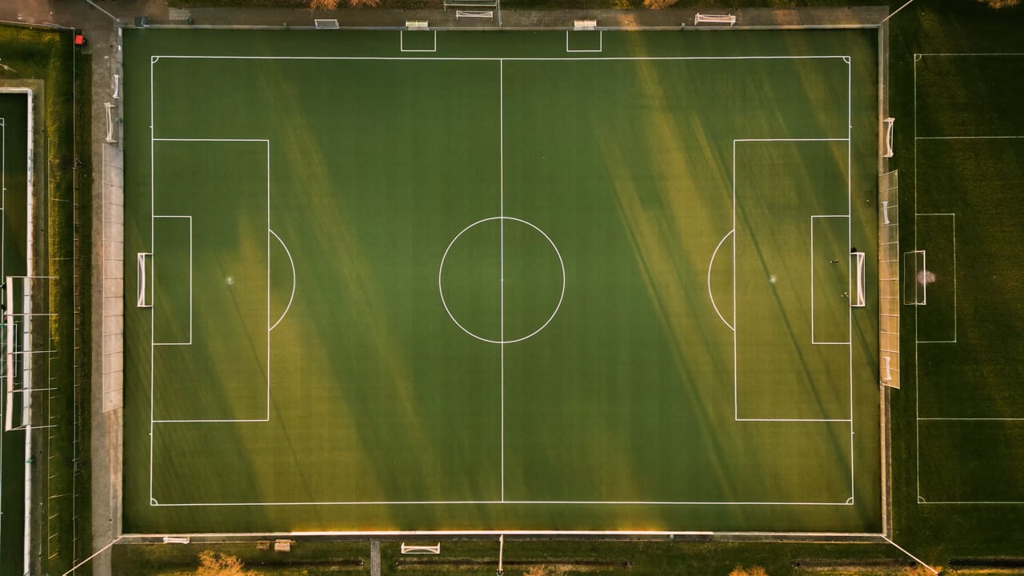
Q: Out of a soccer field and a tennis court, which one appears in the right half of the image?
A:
soccer field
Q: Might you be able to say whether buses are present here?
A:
No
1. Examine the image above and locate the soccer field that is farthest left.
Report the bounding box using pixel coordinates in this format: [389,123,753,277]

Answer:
[0,92,28,576]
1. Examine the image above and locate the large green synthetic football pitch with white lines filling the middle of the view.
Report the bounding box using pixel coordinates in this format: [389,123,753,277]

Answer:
[122,30,882,532]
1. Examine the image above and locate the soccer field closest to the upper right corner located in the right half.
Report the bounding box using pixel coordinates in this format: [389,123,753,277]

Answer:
[890,0,1024,553]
